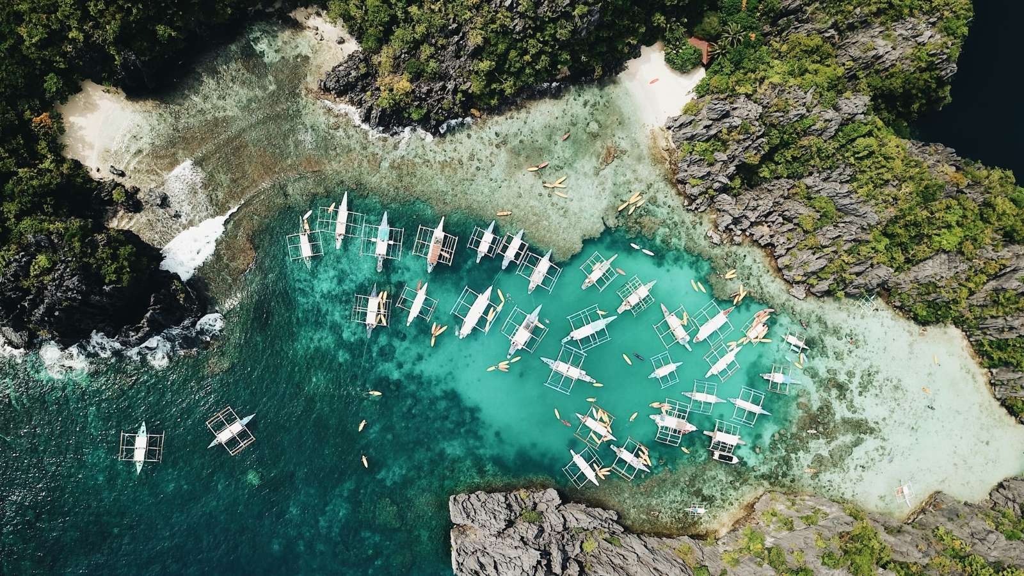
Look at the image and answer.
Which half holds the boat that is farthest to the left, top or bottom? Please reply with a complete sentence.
The boat that is farthest to the left is in the bottom half of the image.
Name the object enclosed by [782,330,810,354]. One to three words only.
boat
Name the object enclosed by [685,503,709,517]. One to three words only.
boat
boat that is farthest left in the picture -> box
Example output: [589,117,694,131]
[119,422,164,476]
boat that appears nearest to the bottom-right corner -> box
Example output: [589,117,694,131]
[895,479,917,508]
